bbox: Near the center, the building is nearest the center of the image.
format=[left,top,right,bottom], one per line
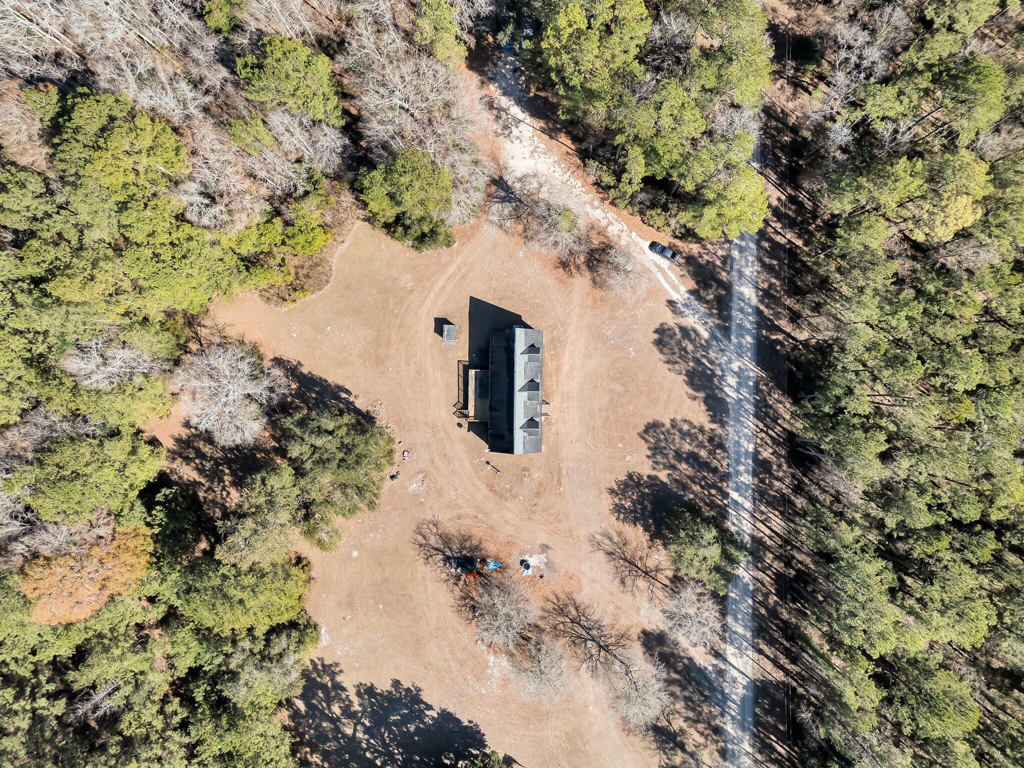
[458,327,553,454]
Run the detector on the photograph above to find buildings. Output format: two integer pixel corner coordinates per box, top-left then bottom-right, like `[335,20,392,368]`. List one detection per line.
[442,324,455,341]
[458,327,553,454]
